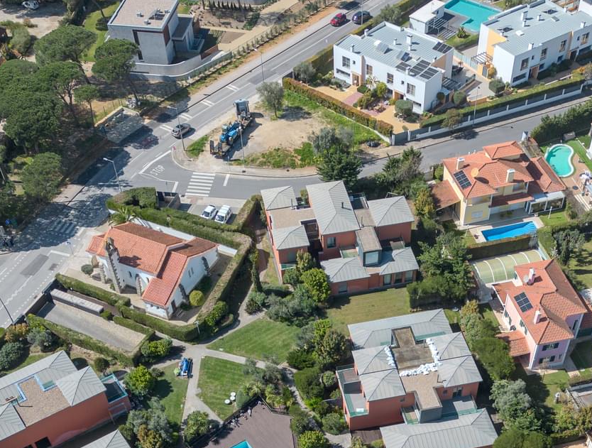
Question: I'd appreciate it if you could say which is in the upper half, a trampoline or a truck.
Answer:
truck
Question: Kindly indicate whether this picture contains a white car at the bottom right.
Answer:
No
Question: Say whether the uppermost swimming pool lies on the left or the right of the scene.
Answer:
right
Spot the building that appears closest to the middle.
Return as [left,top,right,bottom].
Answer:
[261,181,419,297]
